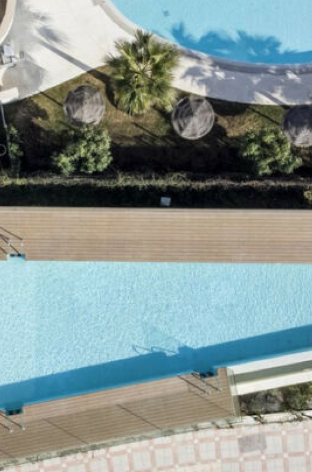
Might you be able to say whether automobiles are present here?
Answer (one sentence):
No, no automobile can be seen from above.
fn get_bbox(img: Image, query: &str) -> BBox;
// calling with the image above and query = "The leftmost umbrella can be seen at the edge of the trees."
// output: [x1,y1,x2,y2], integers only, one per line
[61,84,106,126]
